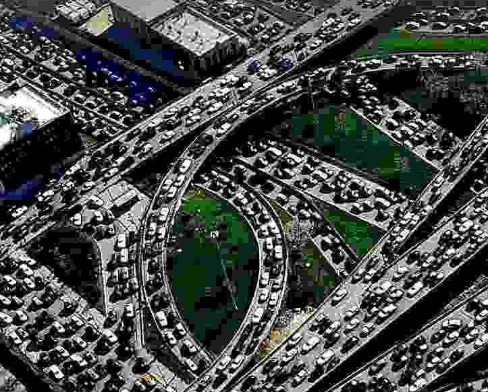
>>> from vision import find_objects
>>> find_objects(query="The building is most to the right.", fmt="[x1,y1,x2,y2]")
[155,5,243,83]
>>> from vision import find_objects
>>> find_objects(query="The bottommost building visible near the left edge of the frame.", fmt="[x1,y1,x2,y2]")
[0,86,82,197]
